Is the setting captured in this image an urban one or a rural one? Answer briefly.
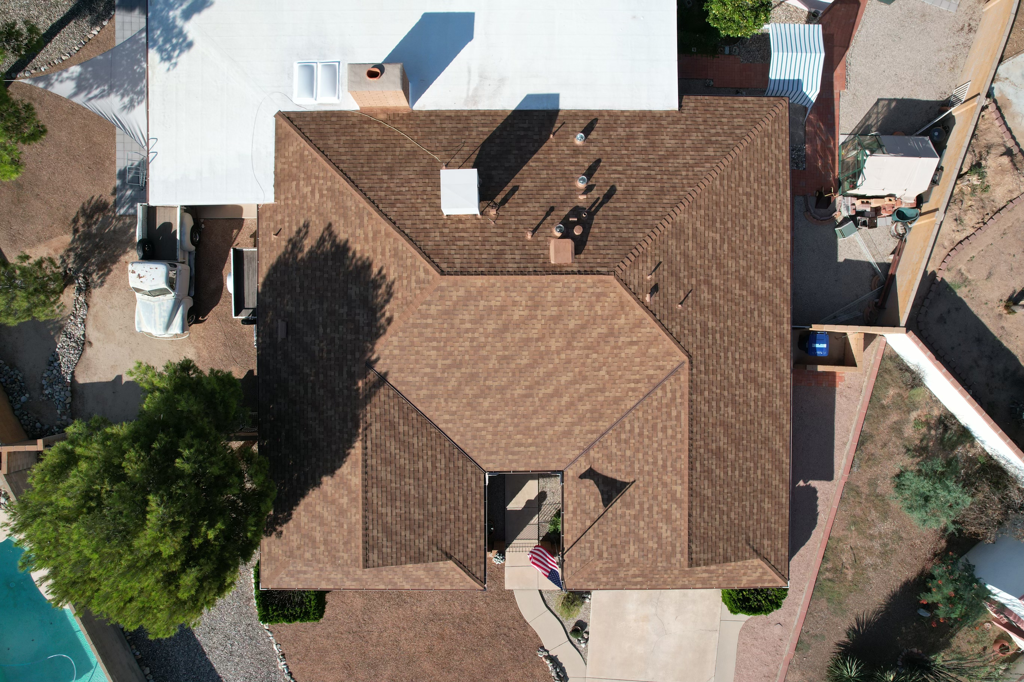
urban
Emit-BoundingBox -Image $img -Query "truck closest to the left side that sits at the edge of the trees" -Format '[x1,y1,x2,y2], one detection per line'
[127,203,204,345]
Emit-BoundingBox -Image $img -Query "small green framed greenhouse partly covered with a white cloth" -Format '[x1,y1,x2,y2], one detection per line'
[839,134,941,196]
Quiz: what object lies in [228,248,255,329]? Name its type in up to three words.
trailer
